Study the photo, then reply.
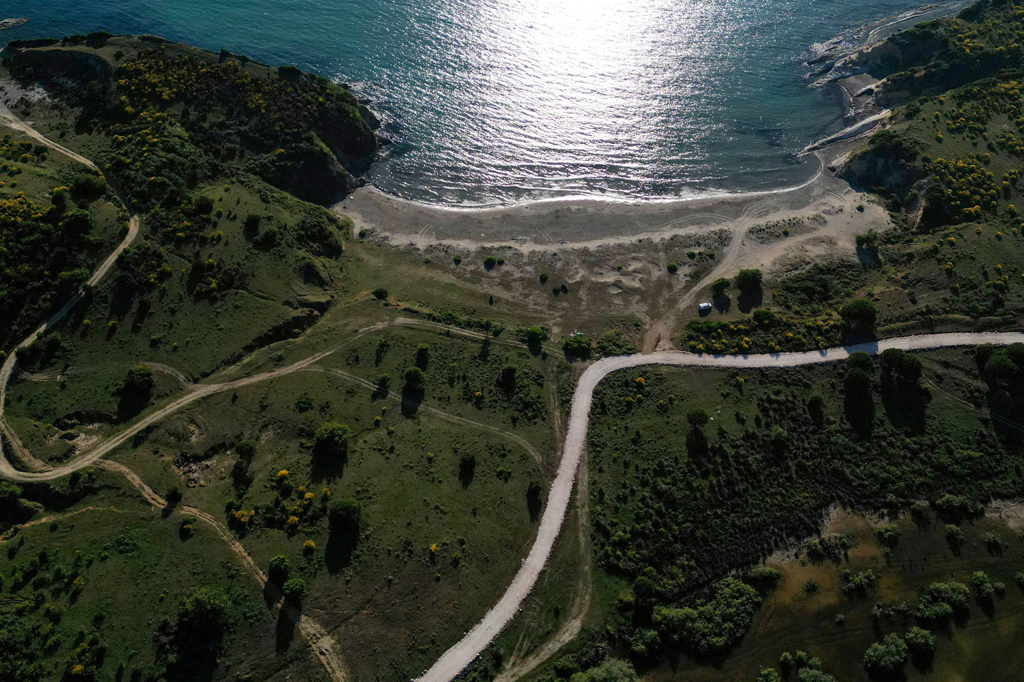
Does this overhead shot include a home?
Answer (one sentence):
No, the frame has no home in it.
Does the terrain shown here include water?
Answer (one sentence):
Yes, the picture does contain water.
